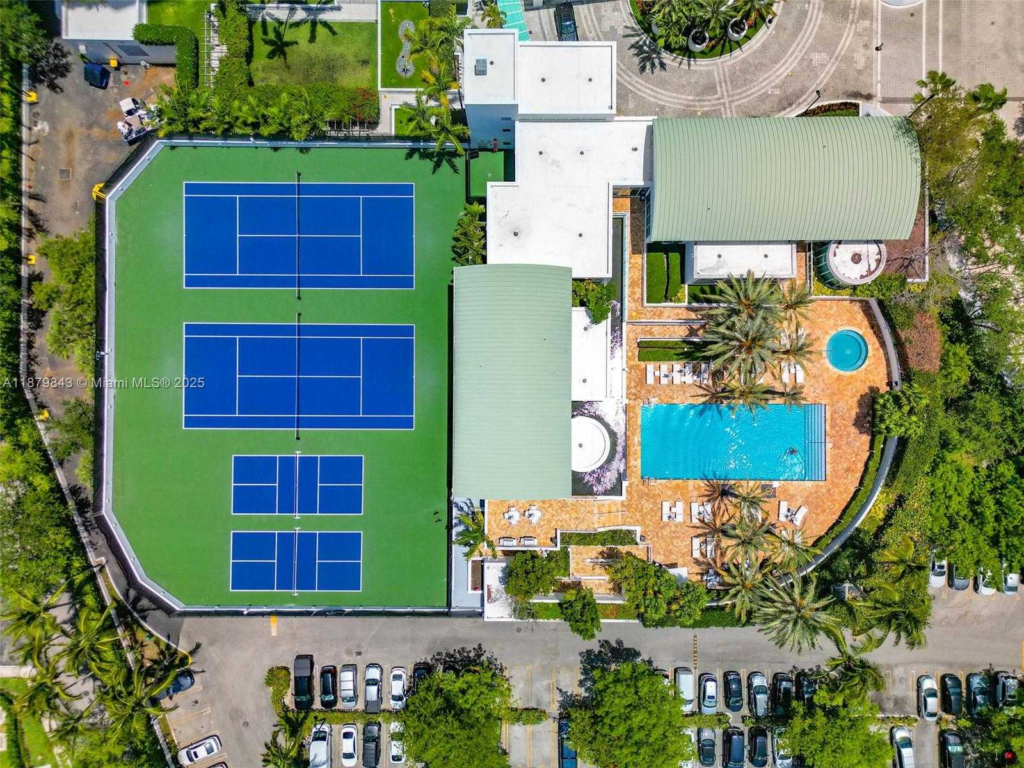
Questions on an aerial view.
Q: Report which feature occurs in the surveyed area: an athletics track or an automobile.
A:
automobile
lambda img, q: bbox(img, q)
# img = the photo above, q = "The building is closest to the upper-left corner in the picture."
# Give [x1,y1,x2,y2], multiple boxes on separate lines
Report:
[62,0,174,65]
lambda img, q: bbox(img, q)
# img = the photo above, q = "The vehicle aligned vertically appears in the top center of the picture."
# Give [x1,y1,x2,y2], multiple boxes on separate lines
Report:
[557,0,580,41]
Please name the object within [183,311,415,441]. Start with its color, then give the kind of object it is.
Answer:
blue tennis court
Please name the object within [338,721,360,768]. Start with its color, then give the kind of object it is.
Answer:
white car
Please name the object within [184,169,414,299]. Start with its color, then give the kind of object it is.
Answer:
blue tennis court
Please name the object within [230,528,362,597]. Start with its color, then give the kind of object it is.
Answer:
blue sports court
